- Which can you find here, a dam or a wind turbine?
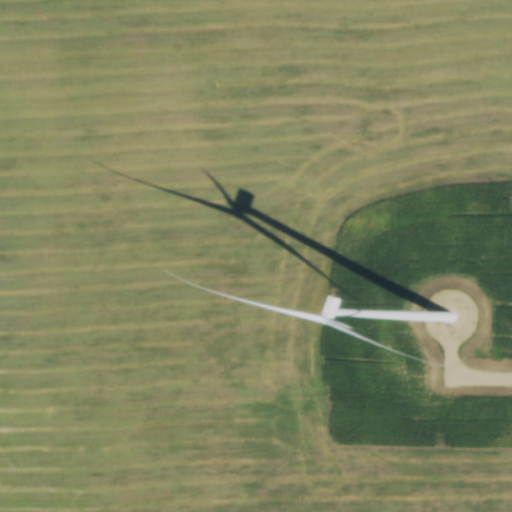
wind turbine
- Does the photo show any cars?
No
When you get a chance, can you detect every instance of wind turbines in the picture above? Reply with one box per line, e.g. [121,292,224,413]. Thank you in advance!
[165,270,458,368]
